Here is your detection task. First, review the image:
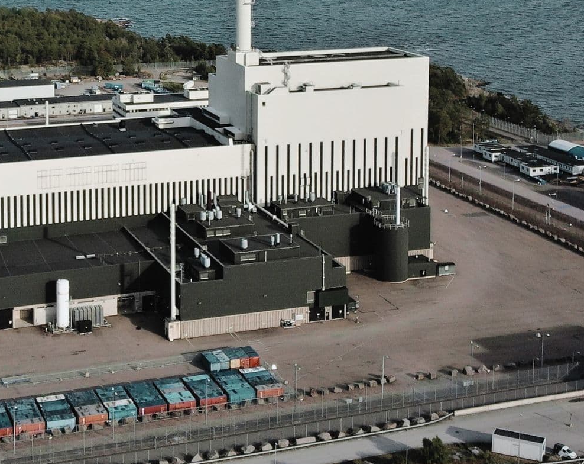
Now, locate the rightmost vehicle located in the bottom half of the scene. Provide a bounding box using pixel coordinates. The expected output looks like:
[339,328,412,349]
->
[549,440,580,460]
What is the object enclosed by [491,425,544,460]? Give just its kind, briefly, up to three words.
shed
